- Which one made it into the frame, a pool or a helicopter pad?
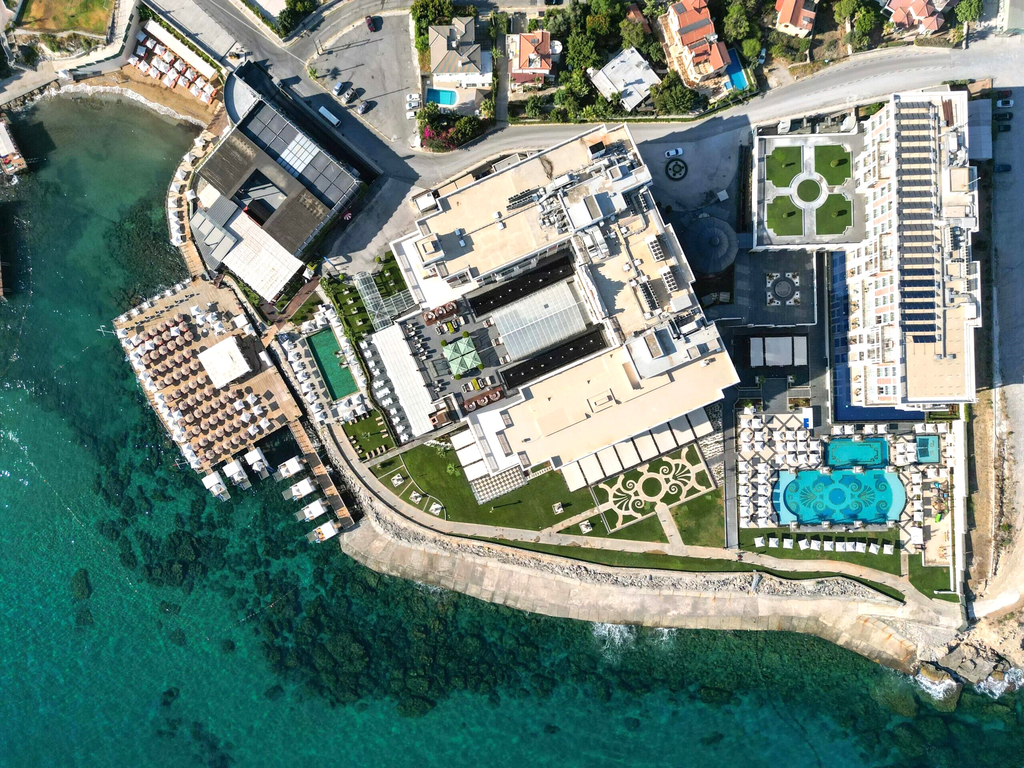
pool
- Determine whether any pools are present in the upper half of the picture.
Yes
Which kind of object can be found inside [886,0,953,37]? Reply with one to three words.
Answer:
house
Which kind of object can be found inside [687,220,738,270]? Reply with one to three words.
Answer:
building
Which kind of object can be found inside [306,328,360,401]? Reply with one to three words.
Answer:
swimming pool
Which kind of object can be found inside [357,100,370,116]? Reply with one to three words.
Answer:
vehicle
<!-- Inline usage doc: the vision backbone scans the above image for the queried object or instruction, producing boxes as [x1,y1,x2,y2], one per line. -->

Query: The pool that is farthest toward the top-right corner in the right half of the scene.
[725,47,750,92]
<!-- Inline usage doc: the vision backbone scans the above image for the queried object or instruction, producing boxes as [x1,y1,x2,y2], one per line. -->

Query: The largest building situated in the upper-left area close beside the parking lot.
[189,61,367,303]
